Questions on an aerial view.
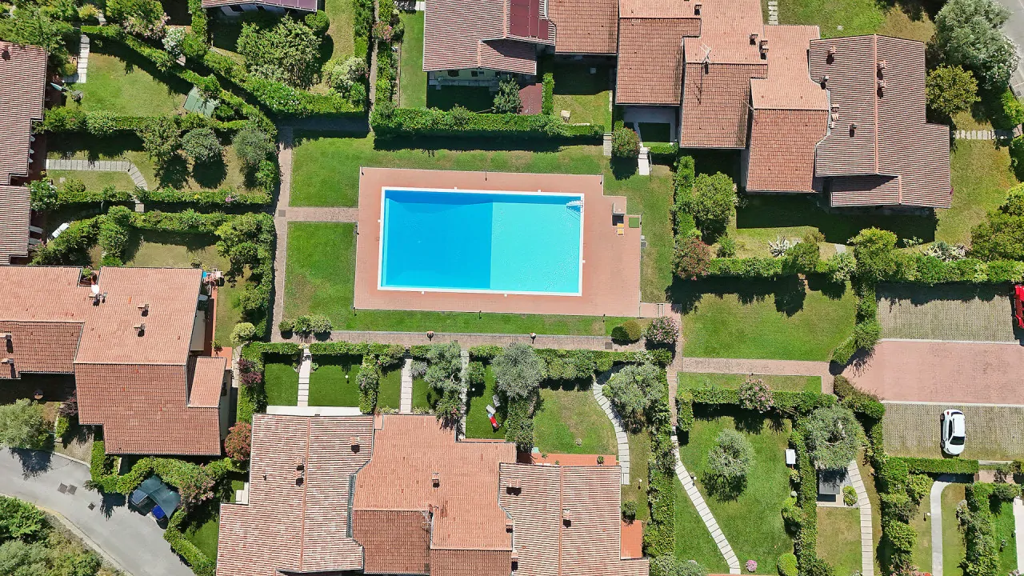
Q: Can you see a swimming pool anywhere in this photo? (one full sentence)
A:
Yes, a swimming pool can be made out from above.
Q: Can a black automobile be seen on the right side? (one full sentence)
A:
No, I see no black automobile on the right side.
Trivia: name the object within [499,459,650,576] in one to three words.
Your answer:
house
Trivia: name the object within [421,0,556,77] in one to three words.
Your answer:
house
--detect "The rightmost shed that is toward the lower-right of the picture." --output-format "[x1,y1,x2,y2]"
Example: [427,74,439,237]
[813,464,840,495]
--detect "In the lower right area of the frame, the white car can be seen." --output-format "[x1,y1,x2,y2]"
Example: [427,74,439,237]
[939,409,968,455]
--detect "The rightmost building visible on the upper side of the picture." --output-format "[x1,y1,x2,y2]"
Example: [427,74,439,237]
[810,33,952,208]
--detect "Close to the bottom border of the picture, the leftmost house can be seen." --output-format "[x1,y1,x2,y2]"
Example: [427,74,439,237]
[214,411,374,576]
